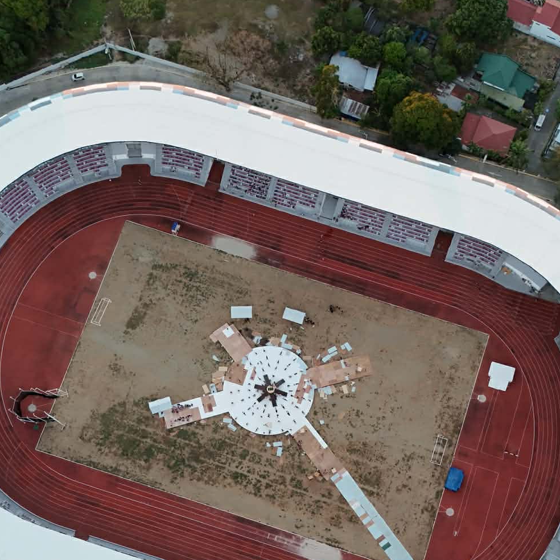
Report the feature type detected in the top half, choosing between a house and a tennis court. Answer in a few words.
house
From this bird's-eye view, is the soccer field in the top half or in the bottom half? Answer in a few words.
bottom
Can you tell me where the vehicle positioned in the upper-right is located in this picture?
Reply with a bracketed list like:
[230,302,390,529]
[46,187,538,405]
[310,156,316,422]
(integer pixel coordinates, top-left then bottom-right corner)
[535,114,547,132]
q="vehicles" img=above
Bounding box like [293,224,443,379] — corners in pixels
[535,114,547,132]
[72,72,85,82]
